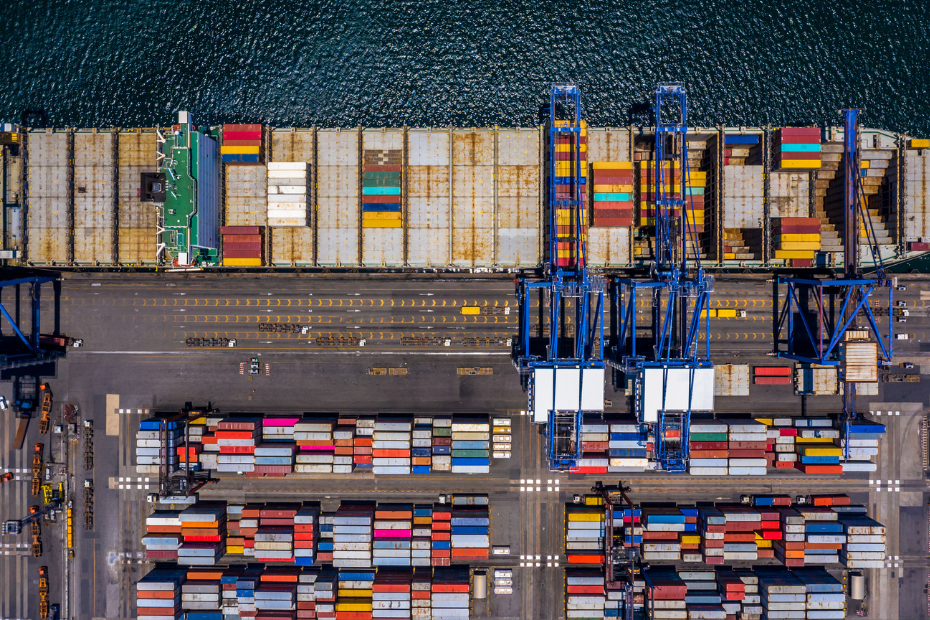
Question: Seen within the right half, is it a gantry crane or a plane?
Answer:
gantry crane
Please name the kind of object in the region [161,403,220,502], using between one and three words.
container crane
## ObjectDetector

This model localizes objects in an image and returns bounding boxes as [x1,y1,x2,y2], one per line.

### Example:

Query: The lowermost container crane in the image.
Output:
[619,560,655,620]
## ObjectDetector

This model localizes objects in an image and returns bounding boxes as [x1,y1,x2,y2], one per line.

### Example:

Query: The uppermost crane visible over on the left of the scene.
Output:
[0,279,66,367]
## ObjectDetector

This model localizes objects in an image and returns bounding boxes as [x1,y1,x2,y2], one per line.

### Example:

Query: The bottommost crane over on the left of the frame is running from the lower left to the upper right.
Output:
[3,482,65,535]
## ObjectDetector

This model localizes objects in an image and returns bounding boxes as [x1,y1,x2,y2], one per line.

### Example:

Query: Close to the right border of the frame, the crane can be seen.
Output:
[760,103,901,462]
